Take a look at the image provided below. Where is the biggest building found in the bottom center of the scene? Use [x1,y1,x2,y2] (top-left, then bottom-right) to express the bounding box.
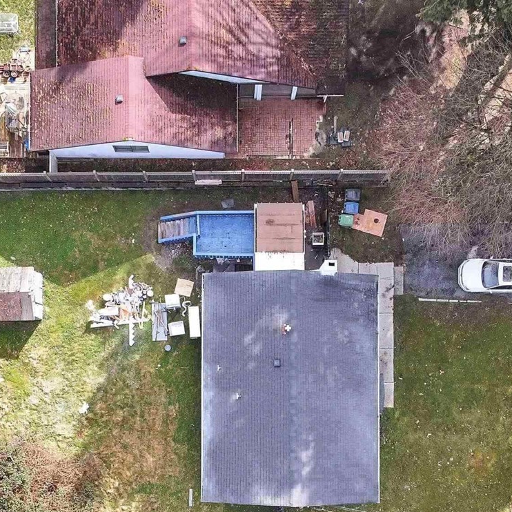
[198,258,382,509]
